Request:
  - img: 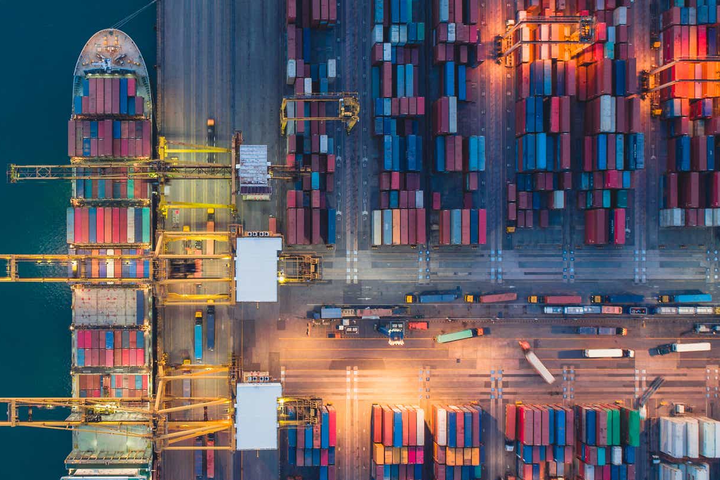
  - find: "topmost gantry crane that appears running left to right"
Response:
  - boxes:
[498,13,599,64]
